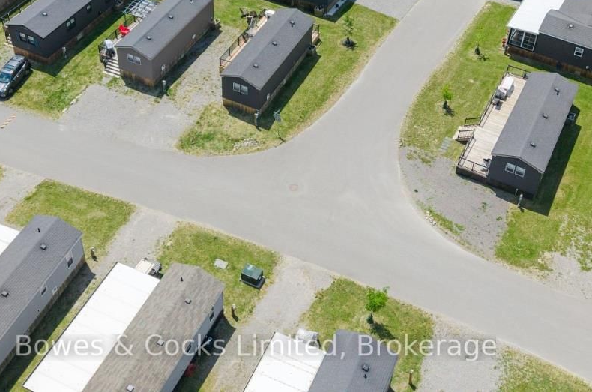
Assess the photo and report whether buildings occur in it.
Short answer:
Yes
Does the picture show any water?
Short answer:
No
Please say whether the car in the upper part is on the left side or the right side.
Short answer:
left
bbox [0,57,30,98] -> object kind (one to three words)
car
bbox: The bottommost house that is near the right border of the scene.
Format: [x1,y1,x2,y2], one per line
[488,73,578,199]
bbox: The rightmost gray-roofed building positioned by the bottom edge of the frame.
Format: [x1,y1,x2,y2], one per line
[310,330,398,392]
